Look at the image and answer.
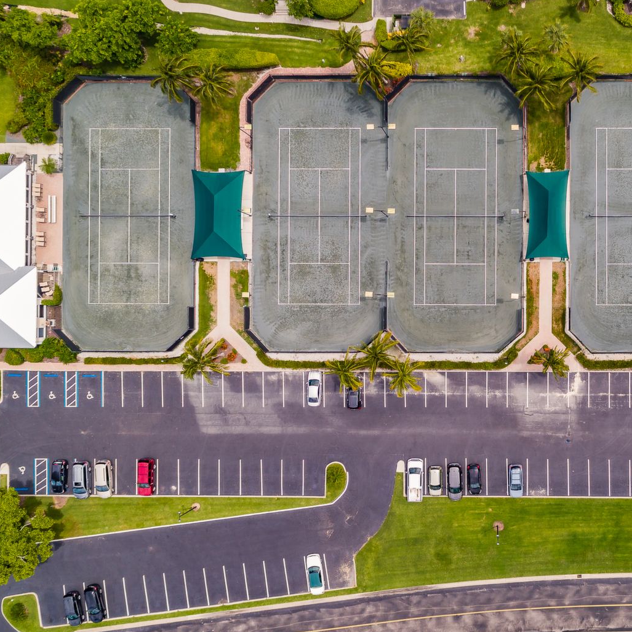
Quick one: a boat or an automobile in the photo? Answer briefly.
automobile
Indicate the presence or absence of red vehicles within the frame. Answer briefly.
Yes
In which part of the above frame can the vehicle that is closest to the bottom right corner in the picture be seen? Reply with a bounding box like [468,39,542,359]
[507,464,524,498]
